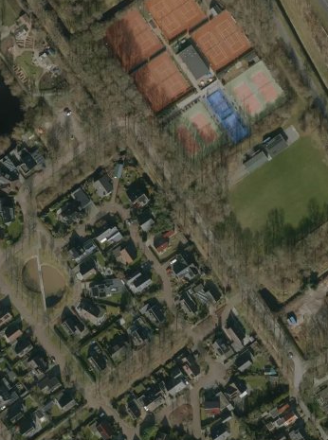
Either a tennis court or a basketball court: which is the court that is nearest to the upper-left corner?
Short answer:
tennis court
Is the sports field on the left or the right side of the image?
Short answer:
right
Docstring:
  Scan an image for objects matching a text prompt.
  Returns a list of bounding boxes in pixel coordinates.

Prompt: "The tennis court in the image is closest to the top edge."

[144,0,207,40]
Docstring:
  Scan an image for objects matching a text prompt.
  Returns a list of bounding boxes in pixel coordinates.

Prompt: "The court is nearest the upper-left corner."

[105,9,165,73]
